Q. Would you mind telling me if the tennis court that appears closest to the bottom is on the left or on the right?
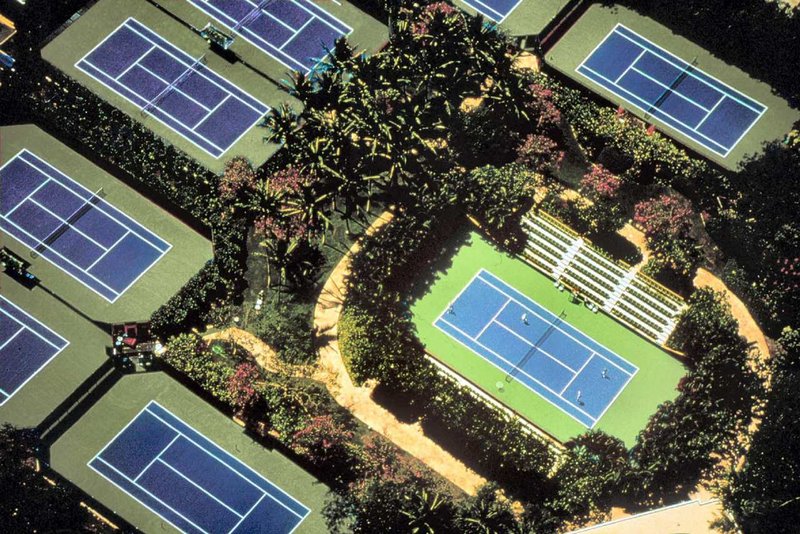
left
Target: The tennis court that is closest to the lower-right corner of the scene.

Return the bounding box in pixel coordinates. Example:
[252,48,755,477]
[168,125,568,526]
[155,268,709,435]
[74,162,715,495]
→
[402,228,686,472]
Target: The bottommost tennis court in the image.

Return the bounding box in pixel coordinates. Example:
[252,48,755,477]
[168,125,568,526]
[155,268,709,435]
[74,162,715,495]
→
[40,368,338,534]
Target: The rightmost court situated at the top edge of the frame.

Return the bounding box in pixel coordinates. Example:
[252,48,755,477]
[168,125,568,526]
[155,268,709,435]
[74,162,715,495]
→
[538,0,800,173]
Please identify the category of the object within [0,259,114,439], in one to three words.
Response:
tennis court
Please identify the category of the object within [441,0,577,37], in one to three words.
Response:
tennis court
